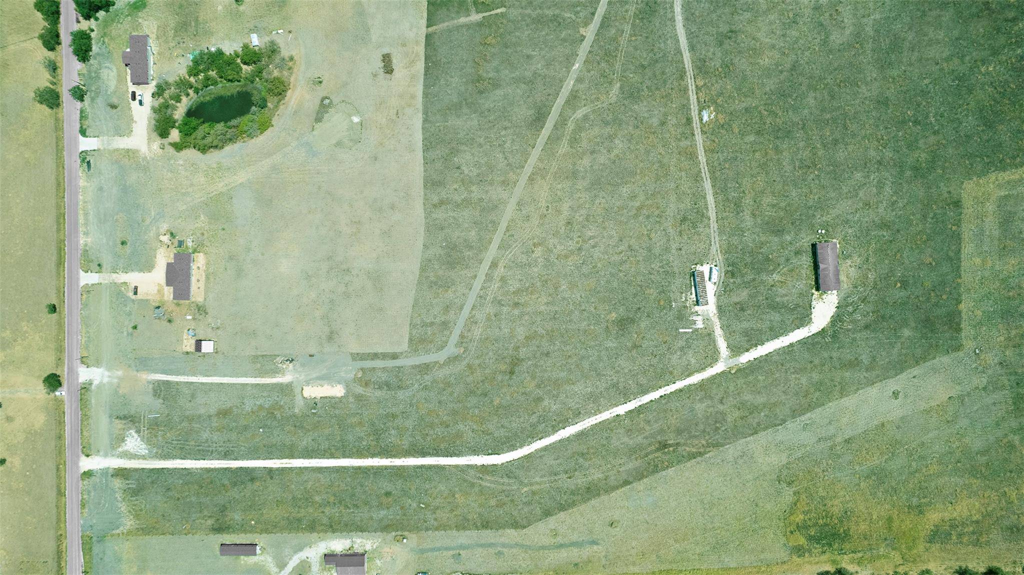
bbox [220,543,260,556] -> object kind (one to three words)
house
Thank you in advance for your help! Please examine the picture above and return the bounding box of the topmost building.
[122,34,154,85]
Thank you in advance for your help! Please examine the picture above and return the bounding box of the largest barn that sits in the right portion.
[814,242,840,292]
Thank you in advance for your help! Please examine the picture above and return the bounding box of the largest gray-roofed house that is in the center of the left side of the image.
[165,253,197,300]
